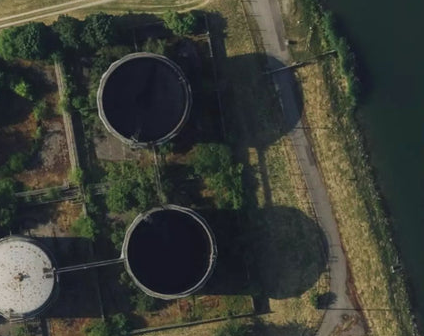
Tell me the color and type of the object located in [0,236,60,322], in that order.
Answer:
white storage tank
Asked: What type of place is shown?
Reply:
industrial area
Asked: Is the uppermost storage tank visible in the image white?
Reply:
No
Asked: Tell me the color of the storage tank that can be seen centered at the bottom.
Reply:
black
